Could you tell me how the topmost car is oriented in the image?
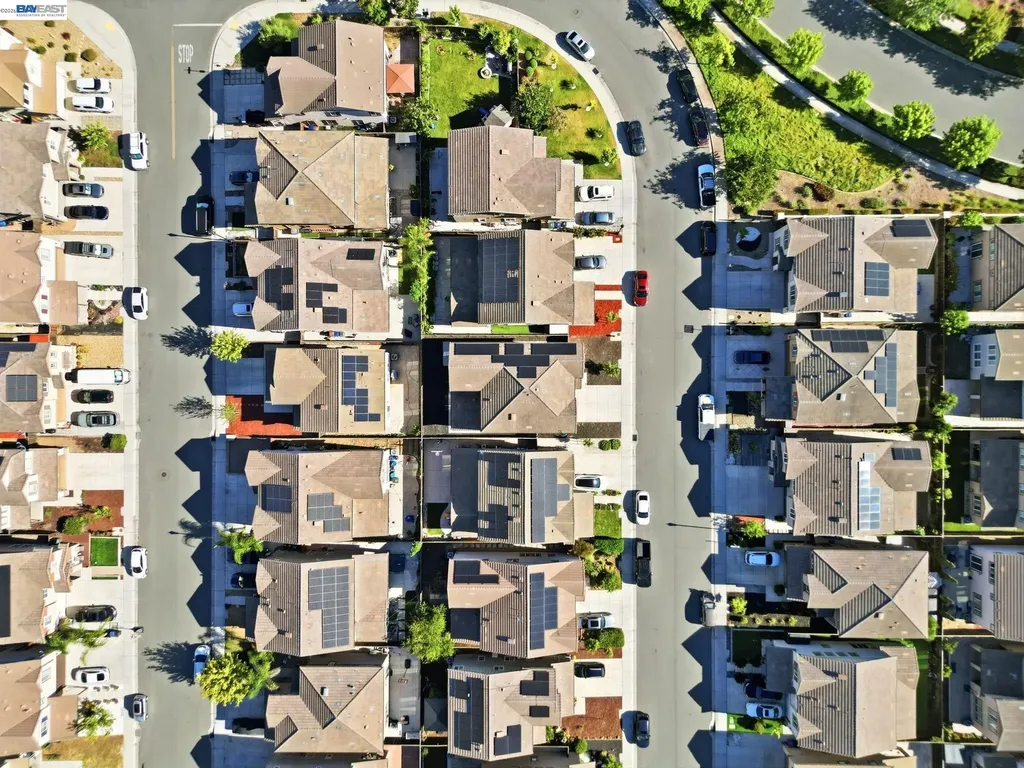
on a diagonal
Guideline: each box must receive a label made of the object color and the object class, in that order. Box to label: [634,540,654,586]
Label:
black vehicle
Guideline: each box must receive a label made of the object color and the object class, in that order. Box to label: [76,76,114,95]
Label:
white car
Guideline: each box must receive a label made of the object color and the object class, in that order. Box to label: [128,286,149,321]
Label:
white car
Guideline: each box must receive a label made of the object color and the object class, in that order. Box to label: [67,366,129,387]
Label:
white vehicle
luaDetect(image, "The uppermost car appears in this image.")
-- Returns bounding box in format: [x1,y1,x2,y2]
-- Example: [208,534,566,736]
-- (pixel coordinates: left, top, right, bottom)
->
[564,31,595,63]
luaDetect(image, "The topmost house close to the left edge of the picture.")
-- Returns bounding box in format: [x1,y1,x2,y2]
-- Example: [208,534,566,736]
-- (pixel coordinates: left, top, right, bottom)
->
[0,44,66,119]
